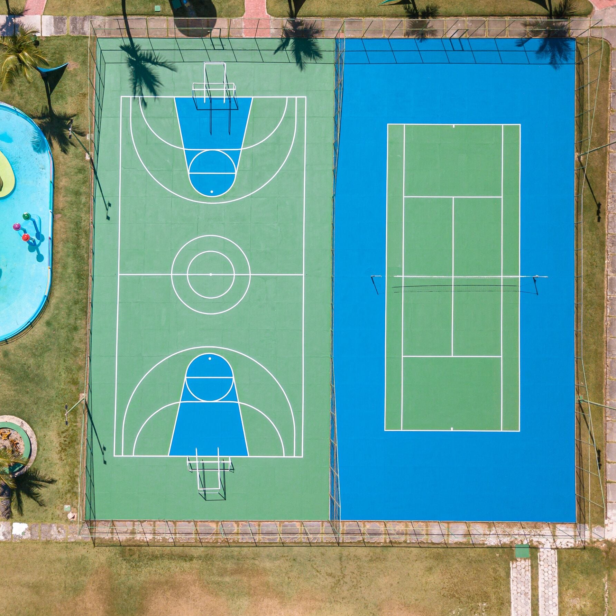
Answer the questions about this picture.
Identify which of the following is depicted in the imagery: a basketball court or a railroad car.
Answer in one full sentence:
The image shows a basketball court.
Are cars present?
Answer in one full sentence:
No, the picture doesn't show any car.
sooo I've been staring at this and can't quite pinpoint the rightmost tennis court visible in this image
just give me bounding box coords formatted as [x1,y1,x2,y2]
[330,38,576,523]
